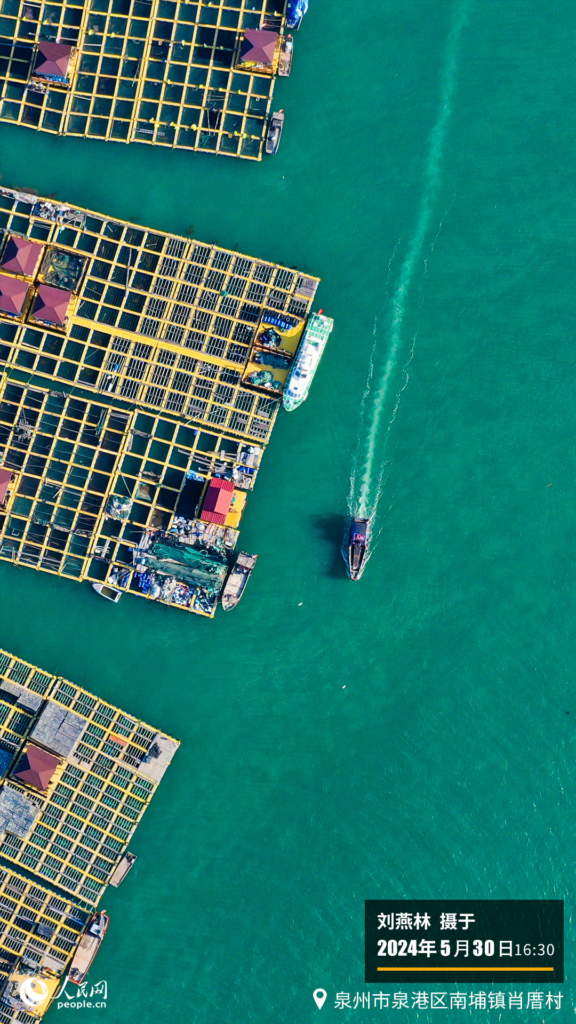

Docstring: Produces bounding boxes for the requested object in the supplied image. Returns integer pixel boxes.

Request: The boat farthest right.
[349,517,369,581]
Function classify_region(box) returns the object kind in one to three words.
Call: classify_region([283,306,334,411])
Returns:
ship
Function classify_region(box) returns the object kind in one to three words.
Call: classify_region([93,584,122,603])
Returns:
boat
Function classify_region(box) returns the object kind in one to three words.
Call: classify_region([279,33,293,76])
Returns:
boat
